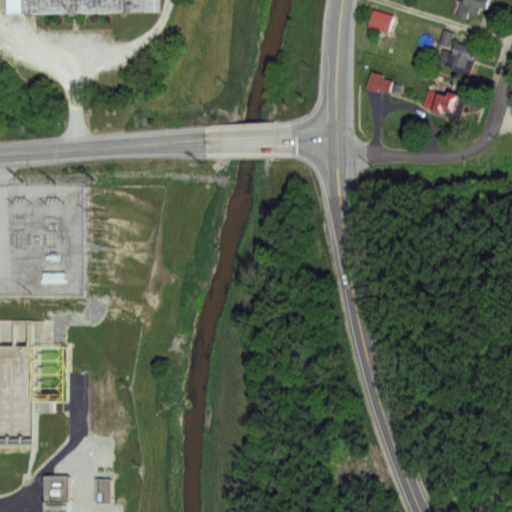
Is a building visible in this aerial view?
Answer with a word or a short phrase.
Yes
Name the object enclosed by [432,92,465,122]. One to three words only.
house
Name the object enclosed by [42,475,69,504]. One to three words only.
building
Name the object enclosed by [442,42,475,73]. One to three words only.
house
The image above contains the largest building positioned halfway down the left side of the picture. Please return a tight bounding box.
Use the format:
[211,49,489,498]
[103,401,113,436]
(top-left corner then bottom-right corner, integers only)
[40,271,66,286]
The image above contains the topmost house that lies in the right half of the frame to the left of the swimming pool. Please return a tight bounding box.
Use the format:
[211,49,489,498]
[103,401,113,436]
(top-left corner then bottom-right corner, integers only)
[368,8,399,38]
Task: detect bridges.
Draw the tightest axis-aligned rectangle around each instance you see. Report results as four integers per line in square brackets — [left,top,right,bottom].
[205,122,293,159]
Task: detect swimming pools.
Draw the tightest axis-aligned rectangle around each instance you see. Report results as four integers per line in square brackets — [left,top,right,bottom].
[418,32,438,49]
